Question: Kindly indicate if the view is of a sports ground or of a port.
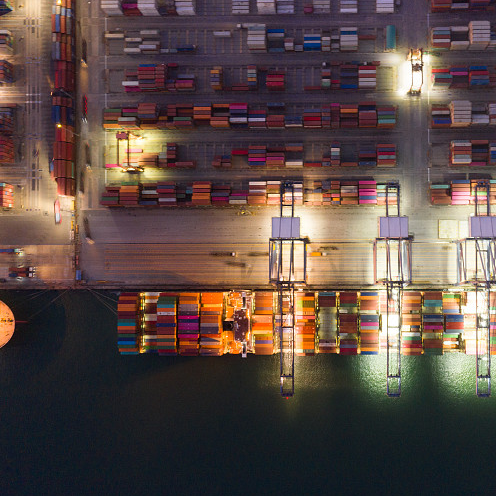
port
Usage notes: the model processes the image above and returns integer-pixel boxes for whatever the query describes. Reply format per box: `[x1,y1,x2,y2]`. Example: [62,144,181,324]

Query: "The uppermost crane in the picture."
[401,48,423,105]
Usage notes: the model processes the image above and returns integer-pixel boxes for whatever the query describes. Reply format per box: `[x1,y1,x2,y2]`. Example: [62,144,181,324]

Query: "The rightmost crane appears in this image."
[448,181,496,398]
